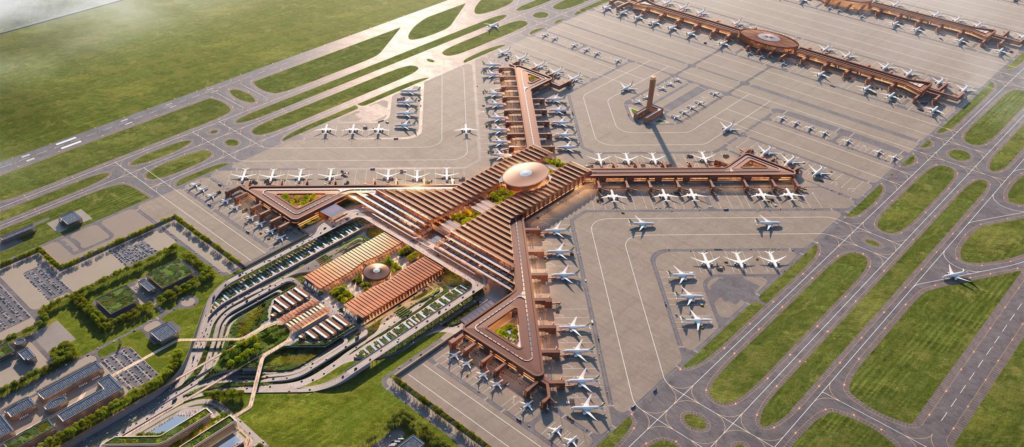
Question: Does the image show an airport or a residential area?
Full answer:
What you see here is an airport.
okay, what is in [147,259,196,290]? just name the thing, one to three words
building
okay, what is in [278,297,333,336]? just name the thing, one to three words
building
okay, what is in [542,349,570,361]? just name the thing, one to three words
jet bridge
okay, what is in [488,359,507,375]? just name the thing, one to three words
jet bridge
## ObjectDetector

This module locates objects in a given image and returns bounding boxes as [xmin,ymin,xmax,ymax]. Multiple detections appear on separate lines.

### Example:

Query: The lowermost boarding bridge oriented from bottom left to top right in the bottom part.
[523,380,540,400]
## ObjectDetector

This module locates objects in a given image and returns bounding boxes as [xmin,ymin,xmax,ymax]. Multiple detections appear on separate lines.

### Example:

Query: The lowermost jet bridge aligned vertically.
[538,379,551,410]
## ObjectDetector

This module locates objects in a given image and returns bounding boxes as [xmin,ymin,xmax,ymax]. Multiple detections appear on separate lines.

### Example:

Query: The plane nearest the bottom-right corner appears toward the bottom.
[942,264,970,281]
